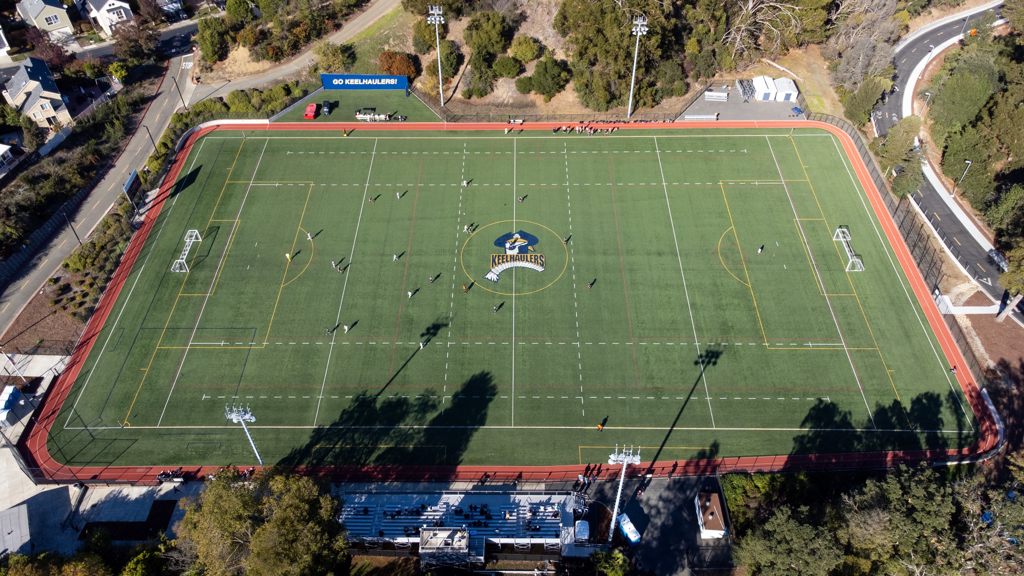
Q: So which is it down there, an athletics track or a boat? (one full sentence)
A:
There is an athletics track in the scene.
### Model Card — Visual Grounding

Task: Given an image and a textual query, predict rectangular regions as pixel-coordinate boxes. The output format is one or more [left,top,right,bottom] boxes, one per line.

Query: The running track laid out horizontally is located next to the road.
[22,120,998,483]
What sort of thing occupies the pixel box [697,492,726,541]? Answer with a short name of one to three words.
shed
